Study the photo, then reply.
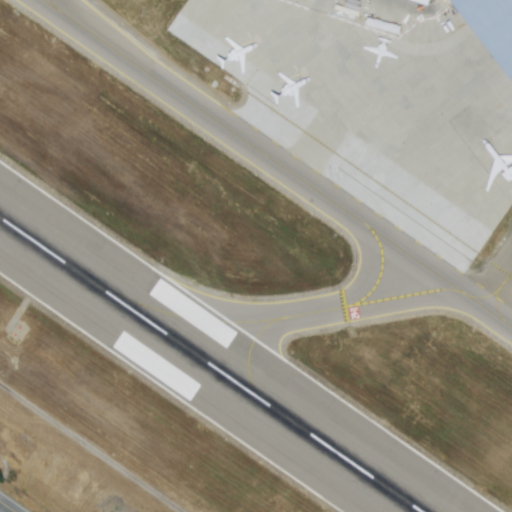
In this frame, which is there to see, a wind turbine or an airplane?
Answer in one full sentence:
There is an airplane in the scene.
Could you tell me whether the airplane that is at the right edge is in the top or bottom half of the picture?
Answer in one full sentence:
The top half of the photo is where the airplane that is at the right edge is.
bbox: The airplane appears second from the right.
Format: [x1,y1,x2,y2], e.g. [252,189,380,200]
[364,36,398,68]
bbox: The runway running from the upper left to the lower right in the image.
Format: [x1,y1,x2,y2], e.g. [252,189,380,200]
[0,160,505,512]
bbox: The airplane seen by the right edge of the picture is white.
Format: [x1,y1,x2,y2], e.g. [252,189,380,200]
[484,140,512,192]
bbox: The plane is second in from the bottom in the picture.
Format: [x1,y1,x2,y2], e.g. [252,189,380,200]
[270,72,310,108]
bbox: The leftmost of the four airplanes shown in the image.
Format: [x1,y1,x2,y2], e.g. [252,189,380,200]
[216,37,257,72]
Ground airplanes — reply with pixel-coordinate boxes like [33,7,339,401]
[216,37,257,72]
[270,72,310,108]
[484,140,512,192]
[364,36,398,68]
